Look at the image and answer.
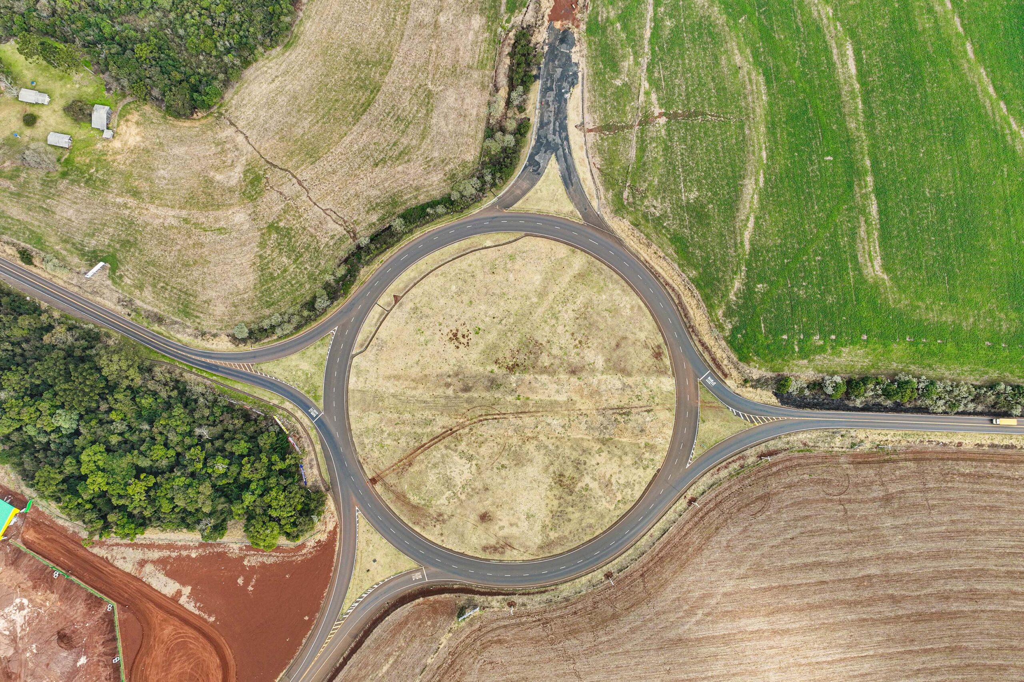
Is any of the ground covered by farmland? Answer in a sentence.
Yes, the picture does contain farmland.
